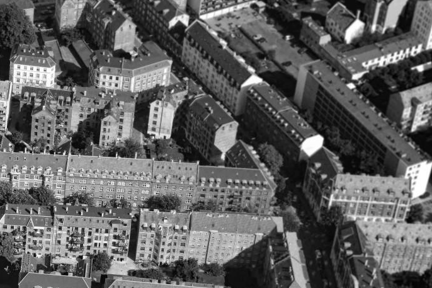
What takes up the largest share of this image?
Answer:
buildings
